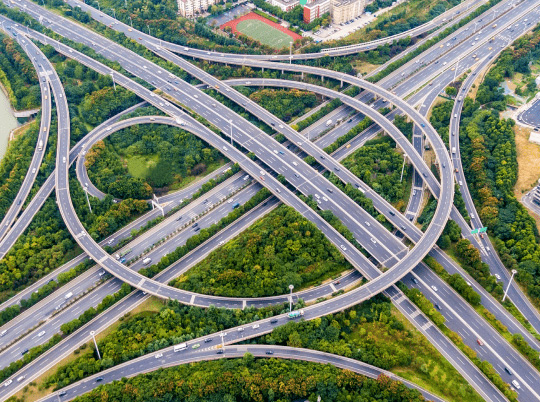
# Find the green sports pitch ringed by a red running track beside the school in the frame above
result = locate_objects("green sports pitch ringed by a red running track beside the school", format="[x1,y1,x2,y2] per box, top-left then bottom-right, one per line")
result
[230,11,304,50]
